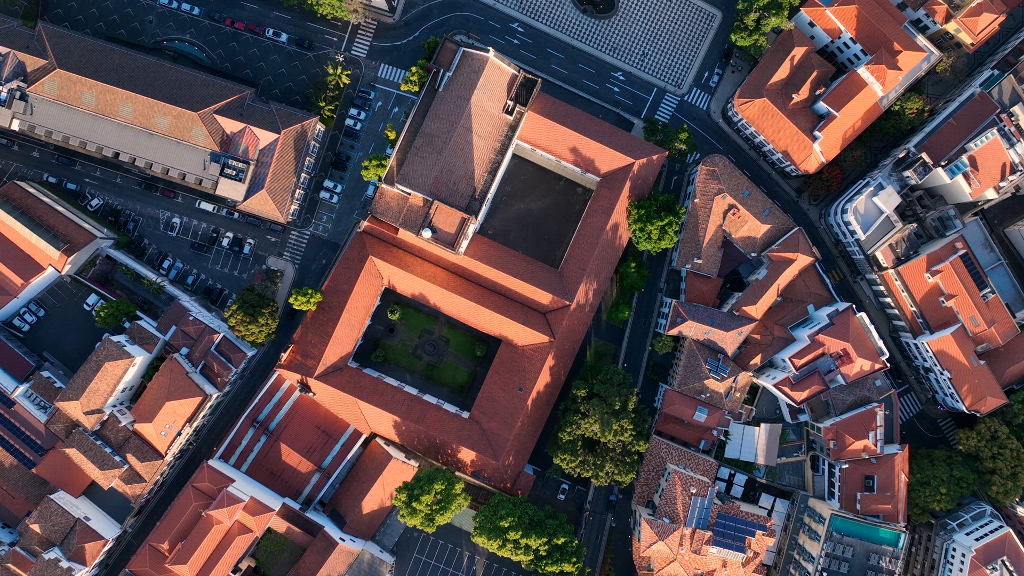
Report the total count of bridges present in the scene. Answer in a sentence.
No bridges are visible.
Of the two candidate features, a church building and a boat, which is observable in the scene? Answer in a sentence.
I can see a church building in this picture.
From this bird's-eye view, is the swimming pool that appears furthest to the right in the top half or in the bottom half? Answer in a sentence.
Seen from above, the swimming pool that appears furthest to the right lies in the bottom half of the view.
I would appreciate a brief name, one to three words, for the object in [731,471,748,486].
umbrella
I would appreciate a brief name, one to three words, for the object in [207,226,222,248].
car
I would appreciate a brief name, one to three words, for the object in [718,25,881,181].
building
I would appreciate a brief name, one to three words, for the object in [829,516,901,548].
swimming pool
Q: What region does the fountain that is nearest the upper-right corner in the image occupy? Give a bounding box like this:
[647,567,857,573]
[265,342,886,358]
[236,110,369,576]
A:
[568,0,621,22]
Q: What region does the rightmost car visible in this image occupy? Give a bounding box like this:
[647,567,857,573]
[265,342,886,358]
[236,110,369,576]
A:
[891,364,909,386]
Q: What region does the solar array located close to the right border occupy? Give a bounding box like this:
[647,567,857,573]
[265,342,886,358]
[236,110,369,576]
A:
[960,252,987,289]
